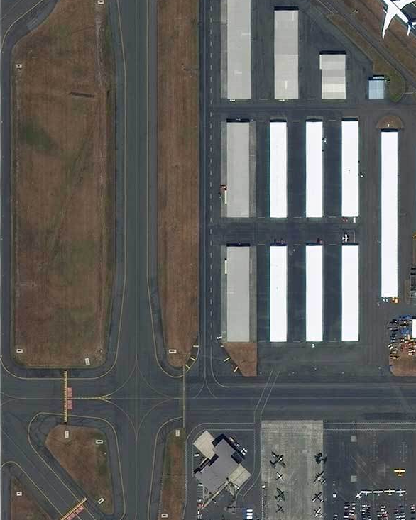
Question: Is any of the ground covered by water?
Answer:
No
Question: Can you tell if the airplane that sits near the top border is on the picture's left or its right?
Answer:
right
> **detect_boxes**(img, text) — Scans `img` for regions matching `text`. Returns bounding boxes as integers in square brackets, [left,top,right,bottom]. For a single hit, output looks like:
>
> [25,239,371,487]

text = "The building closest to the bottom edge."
[194,439,240,494]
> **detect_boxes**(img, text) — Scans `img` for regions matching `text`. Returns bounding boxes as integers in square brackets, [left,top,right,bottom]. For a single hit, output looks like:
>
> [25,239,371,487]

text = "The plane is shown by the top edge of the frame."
[384,0,416,39]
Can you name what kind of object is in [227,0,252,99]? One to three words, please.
hangar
